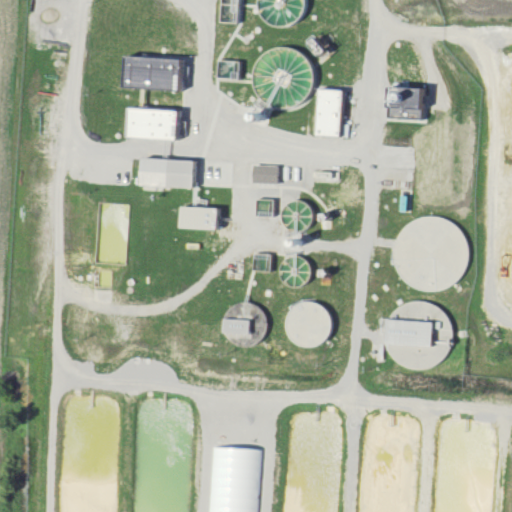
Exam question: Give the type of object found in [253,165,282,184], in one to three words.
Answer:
shed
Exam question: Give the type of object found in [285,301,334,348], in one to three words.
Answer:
storage tank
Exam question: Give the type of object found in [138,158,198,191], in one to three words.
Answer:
building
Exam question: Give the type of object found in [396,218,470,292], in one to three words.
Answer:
storage tank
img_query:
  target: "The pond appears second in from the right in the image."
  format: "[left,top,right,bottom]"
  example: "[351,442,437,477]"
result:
[360,414,420,512]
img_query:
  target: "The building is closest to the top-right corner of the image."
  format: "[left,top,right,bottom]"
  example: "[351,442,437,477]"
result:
[388,86,426,120]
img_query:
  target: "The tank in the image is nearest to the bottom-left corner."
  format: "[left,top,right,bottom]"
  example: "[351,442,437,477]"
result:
[222,302,270,348]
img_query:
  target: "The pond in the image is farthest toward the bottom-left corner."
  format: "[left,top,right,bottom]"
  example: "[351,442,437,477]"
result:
[61,392,120,512]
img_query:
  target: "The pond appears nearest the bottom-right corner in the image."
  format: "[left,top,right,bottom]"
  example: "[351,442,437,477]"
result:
[434,418,497,512]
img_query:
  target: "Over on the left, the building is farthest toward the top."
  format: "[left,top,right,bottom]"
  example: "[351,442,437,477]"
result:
[122,57,186,91]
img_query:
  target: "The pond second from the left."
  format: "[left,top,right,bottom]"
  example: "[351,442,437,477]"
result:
[134,395,193,512]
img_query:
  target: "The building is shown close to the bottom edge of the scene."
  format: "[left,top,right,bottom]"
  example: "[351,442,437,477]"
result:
[212,446,264,512]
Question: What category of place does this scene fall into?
industrial area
